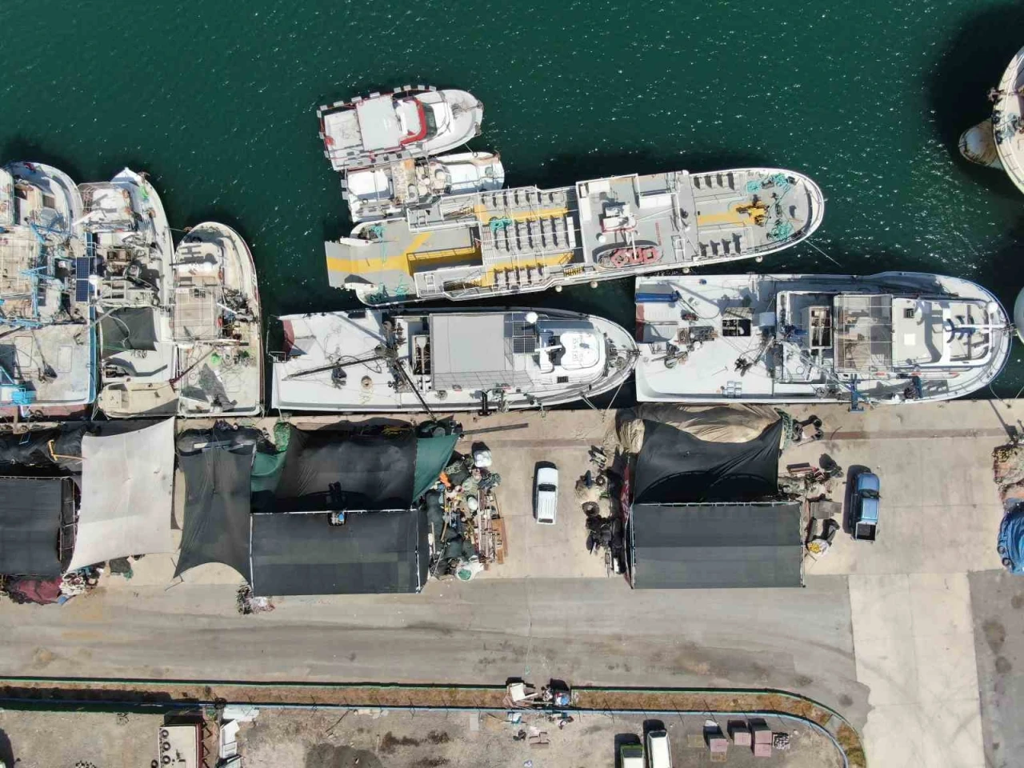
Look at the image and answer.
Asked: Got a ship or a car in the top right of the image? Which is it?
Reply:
ship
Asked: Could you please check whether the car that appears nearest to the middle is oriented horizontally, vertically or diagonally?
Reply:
vertically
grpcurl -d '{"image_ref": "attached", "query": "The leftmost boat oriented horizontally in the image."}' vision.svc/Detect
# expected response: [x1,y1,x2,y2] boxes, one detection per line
[99,380,179,418]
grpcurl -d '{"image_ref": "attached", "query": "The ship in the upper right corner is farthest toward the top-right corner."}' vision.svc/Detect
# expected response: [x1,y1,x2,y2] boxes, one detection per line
[958,47,1024,196]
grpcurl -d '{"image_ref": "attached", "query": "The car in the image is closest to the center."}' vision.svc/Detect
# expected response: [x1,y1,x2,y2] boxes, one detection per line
[532,460,561,524]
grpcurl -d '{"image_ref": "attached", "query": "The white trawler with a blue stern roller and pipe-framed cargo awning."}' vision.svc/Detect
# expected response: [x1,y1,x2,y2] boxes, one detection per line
[632,272,1014,411]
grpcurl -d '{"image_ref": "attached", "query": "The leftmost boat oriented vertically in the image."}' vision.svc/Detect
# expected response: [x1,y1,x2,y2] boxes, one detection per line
[0,160,115,420]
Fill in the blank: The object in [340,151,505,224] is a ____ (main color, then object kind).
white boat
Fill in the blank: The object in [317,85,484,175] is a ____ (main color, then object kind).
white boat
